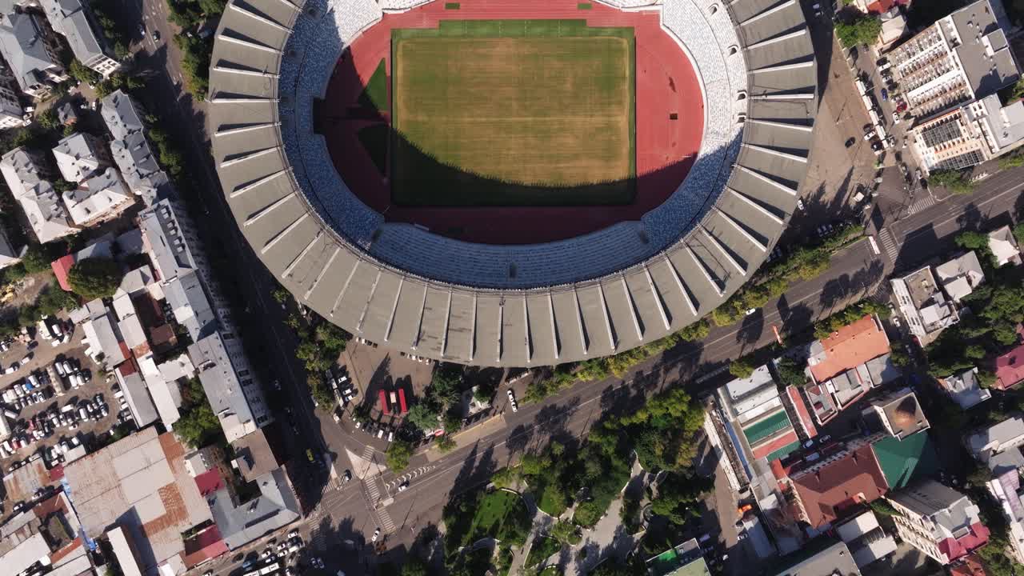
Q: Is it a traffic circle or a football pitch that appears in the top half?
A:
football pitch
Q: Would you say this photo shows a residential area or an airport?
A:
residential area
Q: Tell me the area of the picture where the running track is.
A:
top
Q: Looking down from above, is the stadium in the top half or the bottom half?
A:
top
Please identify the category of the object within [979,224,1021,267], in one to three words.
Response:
house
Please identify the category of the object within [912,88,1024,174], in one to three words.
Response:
building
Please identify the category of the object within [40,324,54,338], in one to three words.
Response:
vehicle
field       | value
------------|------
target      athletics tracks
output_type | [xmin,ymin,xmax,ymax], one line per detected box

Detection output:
[313,0,704,245]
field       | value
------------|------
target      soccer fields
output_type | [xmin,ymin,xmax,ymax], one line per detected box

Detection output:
[391,20,636,207]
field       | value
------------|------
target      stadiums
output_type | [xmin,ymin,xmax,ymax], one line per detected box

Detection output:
[210,0,816,368]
